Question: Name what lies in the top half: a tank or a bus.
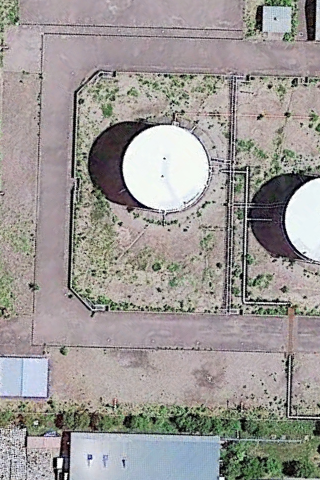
tank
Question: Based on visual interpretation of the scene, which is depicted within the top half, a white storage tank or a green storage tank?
white storage tank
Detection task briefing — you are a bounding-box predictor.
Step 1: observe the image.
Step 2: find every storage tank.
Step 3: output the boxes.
[118,118,217,217]
[278,172,320,268]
